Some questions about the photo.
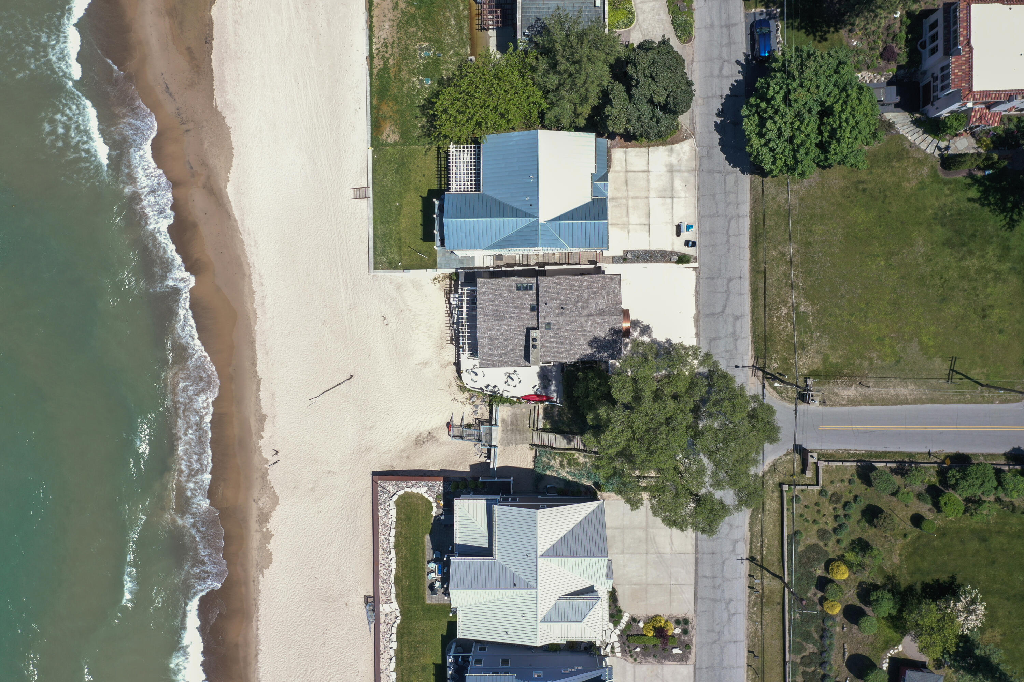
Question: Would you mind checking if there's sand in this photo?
Yes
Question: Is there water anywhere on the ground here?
Yes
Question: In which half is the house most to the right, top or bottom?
top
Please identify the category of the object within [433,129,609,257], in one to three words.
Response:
house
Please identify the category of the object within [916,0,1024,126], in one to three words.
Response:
house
